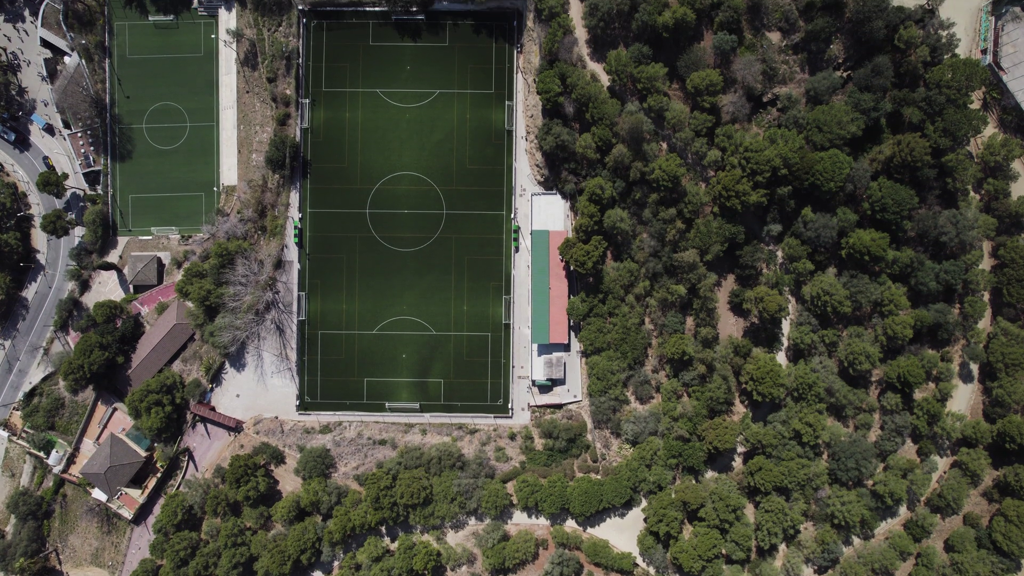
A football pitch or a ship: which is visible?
football pitch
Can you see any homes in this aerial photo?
Yes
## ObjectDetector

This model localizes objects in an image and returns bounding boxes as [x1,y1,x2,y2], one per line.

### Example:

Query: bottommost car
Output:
[40,153,55,172]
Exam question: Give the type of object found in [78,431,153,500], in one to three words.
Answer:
house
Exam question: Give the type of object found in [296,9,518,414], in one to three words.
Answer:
soccer field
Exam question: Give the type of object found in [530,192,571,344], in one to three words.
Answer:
building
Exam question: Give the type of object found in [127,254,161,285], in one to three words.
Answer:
house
